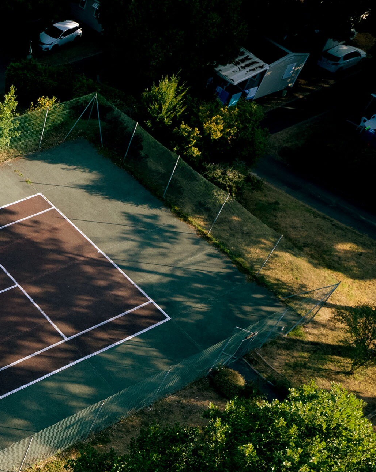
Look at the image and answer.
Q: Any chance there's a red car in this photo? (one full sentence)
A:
No, no red car is visible in the view.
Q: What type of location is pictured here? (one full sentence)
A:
This looks like a sports ground.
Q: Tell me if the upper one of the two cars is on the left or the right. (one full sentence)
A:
The upper one of the two cars appears in the left half of the scene.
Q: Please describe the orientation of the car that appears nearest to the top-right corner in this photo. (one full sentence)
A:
What the image shows is the car that appears nearest to the top-right corner lying from side to side.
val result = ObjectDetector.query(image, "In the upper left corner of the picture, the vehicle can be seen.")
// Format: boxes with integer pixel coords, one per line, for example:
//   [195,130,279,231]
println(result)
[32,19,92,56]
